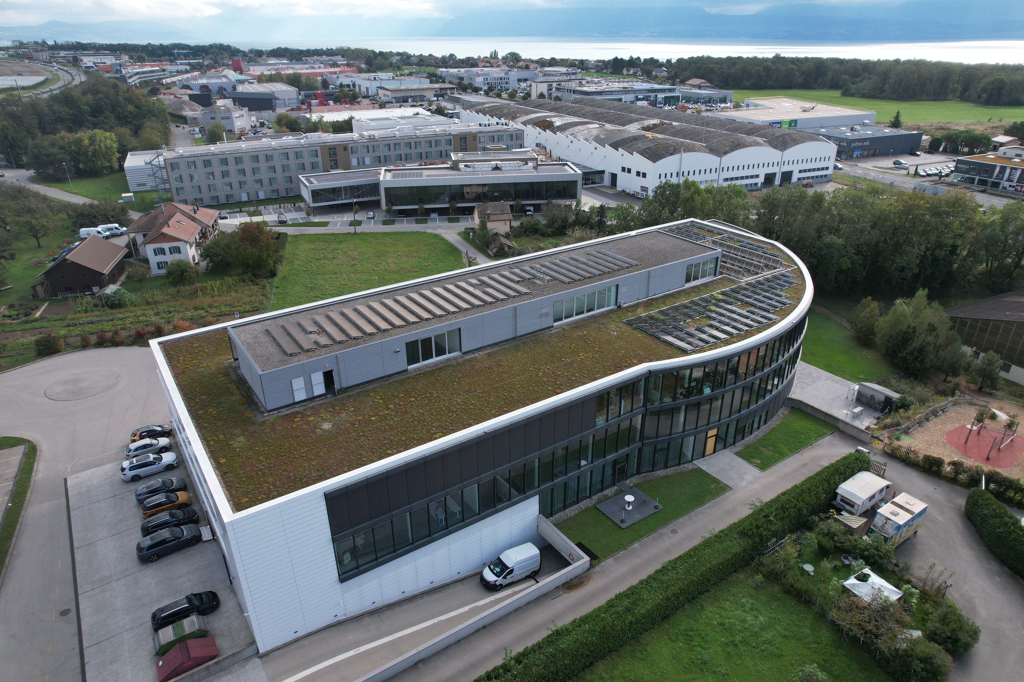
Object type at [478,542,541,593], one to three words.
van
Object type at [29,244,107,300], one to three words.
barn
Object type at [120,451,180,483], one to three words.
car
